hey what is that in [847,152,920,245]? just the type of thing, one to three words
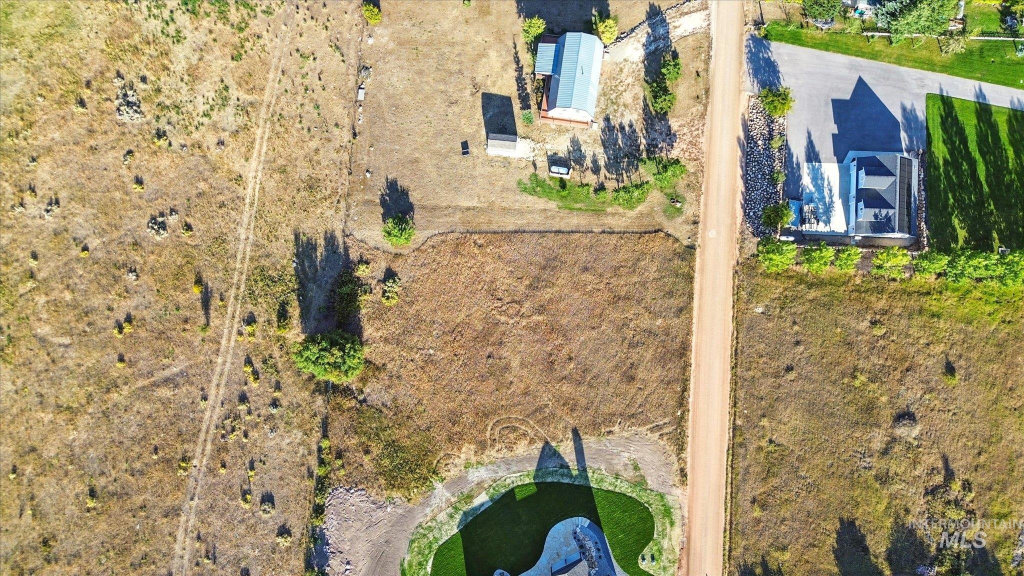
building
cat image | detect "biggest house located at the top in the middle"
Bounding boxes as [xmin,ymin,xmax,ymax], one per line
[533,31,606,131]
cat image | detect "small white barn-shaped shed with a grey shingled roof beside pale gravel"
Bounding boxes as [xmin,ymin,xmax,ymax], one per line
[486,132,517,158]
